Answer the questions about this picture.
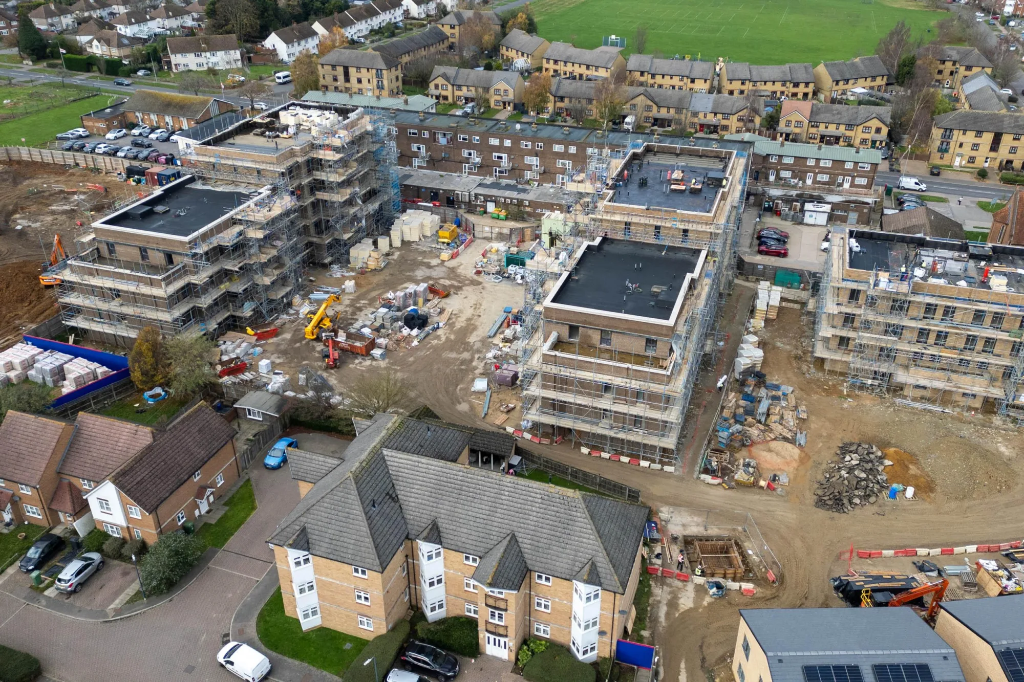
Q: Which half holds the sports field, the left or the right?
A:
right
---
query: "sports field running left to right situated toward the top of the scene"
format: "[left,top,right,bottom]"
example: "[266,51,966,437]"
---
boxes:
[535,0,942,79]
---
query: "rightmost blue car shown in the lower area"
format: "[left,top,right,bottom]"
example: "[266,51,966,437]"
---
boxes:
[266,437,300,466]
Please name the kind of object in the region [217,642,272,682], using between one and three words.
van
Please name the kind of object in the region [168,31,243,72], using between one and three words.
house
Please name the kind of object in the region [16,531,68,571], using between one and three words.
car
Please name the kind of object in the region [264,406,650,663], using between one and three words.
building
